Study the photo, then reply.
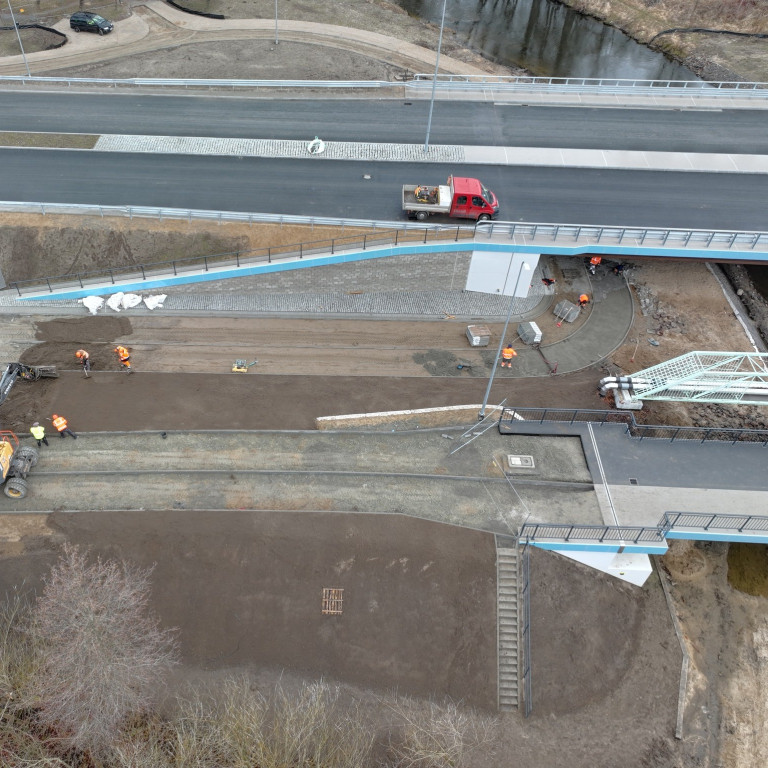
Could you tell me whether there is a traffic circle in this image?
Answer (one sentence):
No, the scene contains no traffic circle.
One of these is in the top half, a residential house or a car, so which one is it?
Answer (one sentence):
You can see a car in the top half.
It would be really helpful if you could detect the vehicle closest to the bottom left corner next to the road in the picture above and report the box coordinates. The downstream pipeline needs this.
[0,362,62,500]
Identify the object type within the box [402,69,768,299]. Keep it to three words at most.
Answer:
bridge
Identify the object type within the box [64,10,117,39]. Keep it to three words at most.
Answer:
car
